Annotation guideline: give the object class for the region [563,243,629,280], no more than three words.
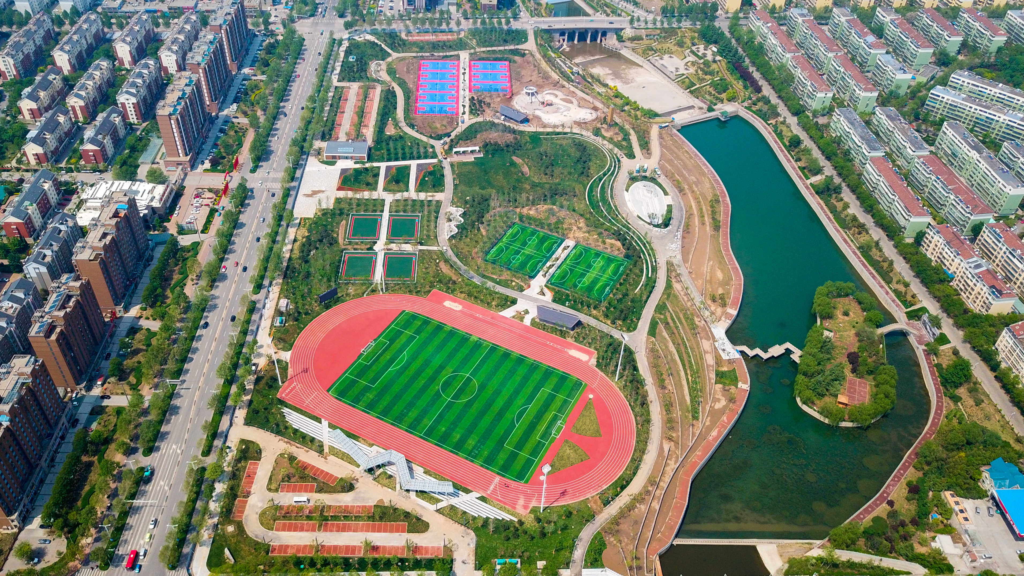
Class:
soccer field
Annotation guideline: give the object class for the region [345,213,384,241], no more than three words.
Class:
sports court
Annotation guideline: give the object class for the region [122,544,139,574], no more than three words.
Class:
vehicle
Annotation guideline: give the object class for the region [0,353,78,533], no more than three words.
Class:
building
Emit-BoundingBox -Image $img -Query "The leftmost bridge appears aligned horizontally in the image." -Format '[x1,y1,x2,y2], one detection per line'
[522,16,632,42]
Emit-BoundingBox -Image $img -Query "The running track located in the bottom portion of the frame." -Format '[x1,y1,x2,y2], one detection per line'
[272,289,634,515]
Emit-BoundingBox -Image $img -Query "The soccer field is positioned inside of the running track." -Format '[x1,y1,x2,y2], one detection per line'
[321,306,590,487]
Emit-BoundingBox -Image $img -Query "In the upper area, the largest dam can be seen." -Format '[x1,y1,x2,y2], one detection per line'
[671,107,742,129]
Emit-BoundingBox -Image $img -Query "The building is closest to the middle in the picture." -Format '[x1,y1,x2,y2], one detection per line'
[537,305,580,332]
